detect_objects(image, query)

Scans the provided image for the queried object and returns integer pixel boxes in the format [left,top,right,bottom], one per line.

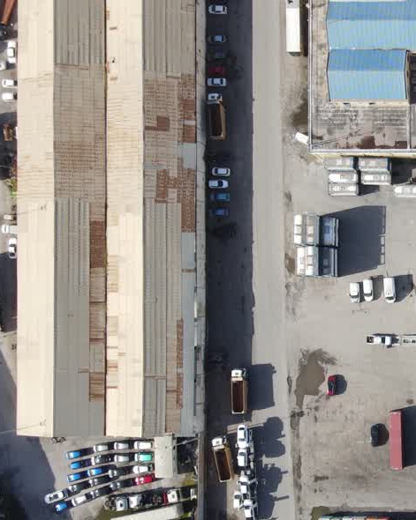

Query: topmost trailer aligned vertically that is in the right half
[288,7,306,57]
